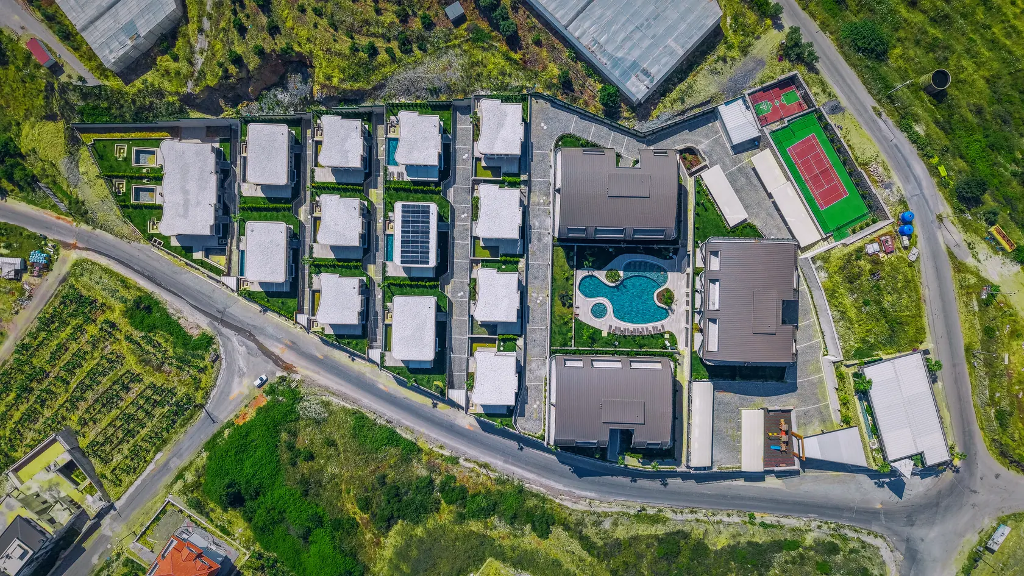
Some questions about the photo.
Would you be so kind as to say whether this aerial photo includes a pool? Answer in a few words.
Yes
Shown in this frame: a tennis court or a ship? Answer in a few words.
tennis court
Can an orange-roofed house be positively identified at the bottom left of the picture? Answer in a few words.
Yes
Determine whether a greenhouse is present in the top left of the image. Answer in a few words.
Yes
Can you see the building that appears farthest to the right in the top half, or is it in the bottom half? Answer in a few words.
bottom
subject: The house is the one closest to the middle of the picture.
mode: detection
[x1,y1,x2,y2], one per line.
[474,268,520,324]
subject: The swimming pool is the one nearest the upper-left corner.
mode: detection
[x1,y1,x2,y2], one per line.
[132,147,157,166]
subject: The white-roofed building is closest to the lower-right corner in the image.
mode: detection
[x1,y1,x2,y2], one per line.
[857,349,952,468]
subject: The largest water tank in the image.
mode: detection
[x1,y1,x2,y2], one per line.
[915,69,951,96]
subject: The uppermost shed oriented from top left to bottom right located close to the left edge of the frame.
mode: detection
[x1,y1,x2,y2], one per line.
[26,38,57,67]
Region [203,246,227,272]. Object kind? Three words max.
swimming pool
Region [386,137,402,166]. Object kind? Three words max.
swimming pool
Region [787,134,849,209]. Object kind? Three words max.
tennis court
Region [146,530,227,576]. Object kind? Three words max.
house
